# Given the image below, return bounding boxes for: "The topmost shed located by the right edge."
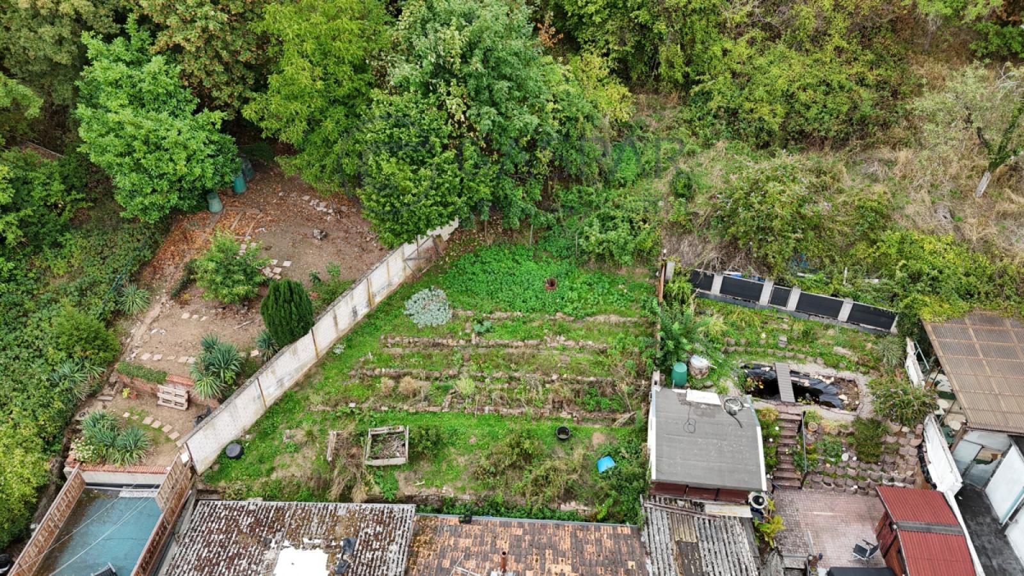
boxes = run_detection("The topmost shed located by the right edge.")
[984,453,1024,529]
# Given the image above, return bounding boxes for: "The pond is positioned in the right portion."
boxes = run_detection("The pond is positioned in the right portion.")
[740,364,867,418]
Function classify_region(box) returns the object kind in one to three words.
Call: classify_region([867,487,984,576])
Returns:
shed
